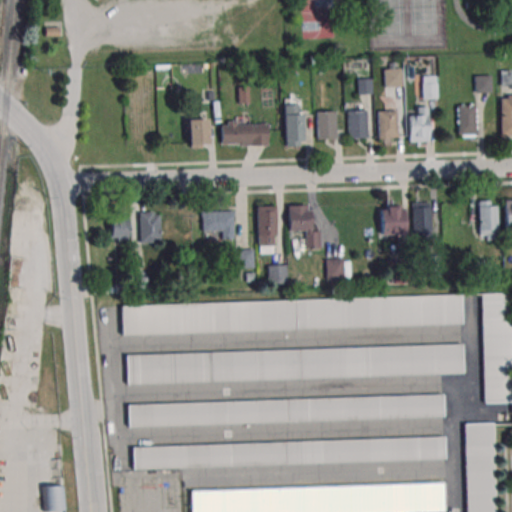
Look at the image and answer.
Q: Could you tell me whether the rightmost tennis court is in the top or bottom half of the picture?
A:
top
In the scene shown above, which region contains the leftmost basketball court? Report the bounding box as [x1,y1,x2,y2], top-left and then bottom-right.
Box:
[304,0,335,41]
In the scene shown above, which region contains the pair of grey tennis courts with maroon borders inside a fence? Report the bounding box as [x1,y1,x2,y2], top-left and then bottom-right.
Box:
[372,0,446,48]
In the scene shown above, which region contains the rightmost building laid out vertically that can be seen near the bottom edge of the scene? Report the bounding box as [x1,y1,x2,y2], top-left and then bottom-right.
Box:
[464,422,498,512]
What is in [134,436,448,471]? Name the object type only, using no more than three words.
building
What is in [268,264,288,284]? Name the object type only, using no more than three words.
building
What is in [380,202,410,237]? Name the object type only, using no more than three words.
house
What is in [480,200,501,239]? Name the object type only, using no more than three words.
house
